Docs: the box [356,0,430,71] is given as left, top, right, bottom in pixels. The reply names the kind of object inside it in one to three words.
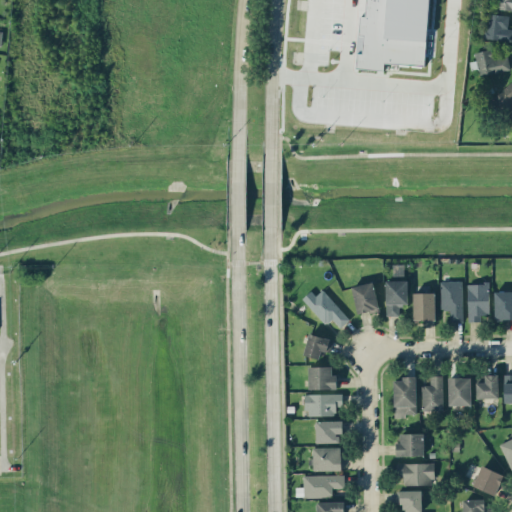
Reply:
building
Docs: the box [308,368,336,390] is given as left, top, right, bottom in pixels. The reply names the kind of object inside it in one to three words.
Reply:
house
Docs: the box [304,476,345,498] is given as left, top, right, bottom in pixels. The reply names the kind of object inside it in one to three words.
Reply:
house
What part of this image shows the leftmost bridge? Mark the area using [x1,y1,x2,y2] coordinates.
[228,154,247,232]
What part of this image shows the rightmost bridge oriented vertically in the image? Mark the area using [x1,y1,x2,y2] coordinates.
[263,154,282,232]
